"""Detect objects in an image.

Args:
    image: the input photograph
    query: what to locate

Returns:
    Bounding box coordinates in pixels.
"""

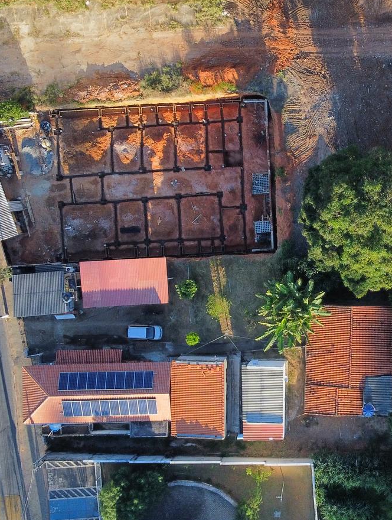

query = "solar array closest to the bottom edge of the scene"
[63,399,161,416]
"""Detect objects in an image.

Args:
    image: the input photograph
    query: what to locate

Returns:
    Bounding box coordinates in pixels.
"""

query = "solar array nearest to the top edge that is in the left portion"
[59,371,156,391]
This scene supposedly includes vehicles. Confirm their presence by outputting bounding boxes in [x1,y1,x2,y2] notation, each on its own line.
[128,324,164,343]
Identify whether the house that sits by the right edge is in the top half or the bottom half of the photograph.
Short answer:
bottom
